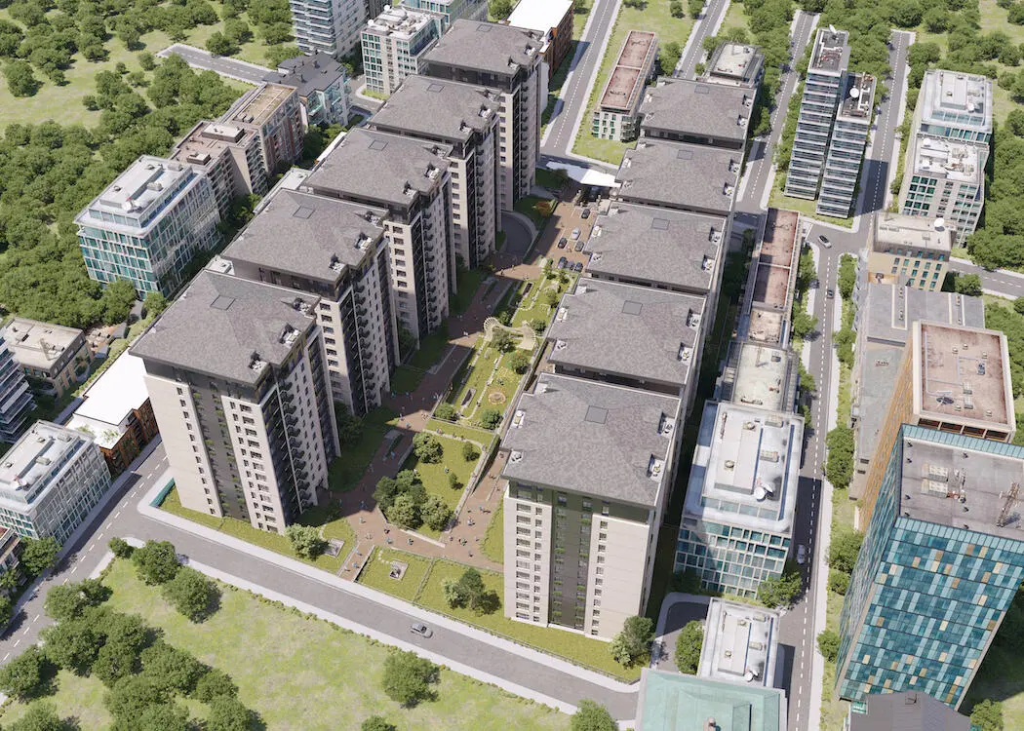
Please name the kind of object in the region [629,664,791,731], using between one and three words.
house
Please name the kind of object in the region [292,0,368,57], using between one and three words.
building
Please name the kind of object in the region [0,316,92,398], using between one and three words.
building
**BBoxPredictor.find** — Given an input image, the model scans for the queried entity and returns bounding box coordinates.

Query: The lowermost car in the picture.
[408,619,431,637]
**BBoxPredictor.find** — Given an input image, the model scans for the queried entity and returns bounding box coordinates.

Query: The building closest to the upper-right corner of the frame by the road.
[902,71,994,156]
